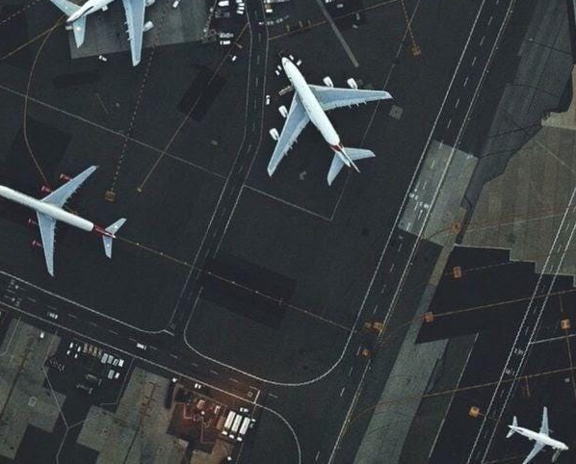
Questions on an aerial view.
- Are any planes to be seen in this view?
Yes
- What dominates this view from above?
paved ground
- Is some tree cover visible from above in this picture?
No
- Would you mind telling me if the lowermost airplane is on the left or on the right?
right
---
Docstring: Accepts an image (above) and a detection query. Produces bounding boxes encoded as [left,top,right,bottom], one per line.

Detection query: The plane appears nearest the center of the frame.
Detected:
[269,57,396,187]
